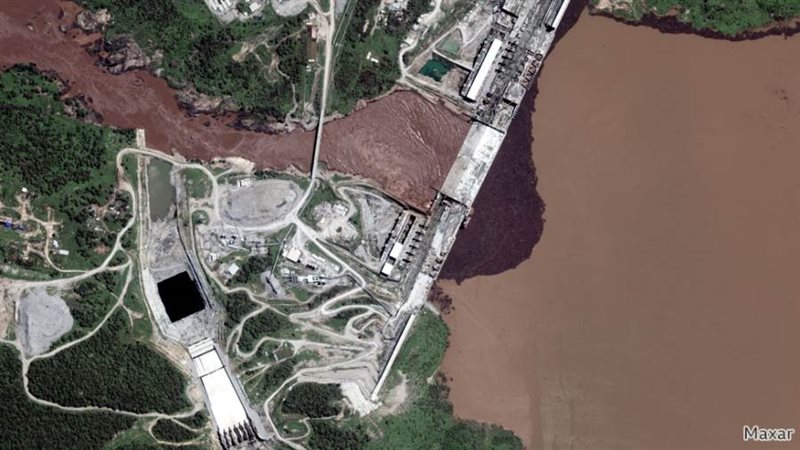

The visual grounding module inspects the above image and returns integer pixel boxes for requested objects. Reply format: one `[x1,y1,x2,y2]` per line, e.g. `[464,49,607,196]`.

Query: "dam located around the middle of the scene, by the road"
[371,0,571,401]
